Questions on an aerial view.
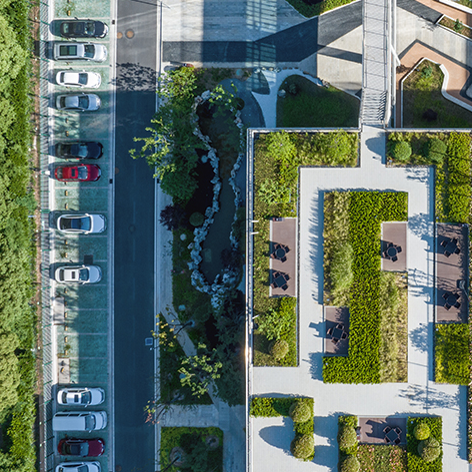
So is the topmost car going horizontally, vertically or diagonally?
horizontally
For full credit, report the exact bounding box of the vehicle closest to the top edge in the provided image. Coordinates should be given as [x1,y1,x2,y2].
[59,18,110,40]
